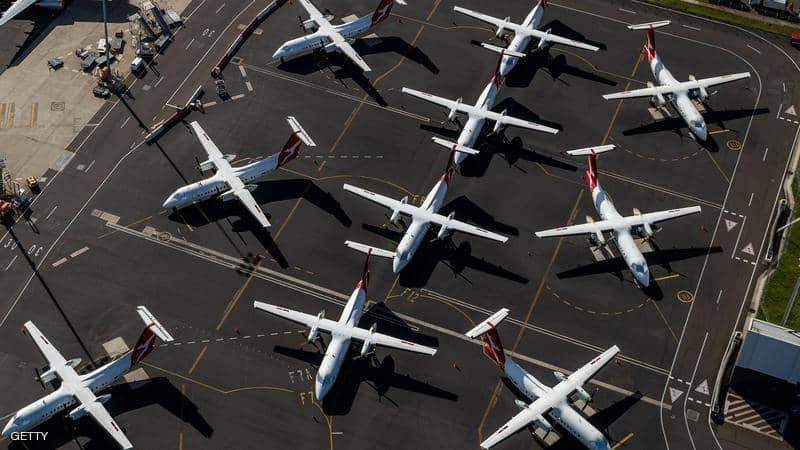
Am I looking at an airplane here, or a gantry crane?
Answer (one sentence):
Of the two, only an airplane appears.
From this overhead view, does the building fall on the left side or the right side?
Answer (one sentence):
It is on the right.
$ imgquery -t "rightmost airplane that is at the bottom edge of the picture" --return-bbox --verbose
[466,309,621,450]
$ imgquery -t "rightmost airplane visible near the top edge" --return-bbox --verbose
[605,20,751,138]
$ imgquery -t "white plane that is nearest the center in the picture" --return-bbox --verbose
[342,136,508,272]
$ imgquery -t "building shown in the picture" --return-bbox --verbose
[730,318,800,413]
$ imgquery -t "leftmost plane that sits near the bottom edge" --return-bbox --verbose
[2,305,175,448]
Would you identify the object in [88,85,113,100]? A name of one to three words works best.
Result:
car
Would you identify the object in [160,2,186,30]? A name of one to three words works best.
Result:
truck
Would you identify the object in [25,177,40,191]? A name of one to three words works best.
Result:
vehicle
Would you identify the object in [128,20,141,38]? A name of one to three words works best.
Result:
vehicle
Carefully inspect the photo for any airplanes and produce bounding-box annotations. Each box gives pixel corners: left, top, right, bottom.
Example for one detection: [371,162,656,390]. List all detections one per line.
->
[342,136,508,272]
[272,0,408,70]
[252,240,437,398]
[454,0,598,74]
[0,0,66,20]
[466,309,621,450]
[2,305,175,448]
[401,41,558,162]
[162,116,316,227]
[605,20,751,138]
[537,144,702,284]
